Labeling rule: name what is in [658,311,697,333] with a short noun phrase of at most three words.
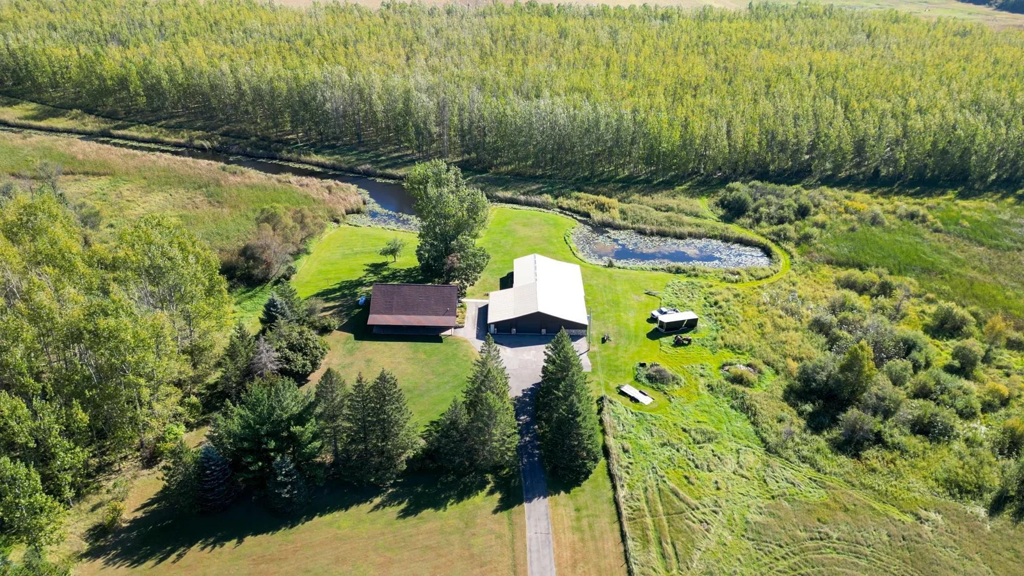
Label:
trailer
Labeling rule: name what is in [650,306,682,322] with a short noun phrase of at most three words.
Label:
vehicle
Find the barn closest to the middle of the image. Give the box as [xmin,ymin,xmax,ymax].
[488,253,589,336]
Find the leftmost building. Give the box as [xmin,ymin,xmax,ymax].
[366,282,460,335]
